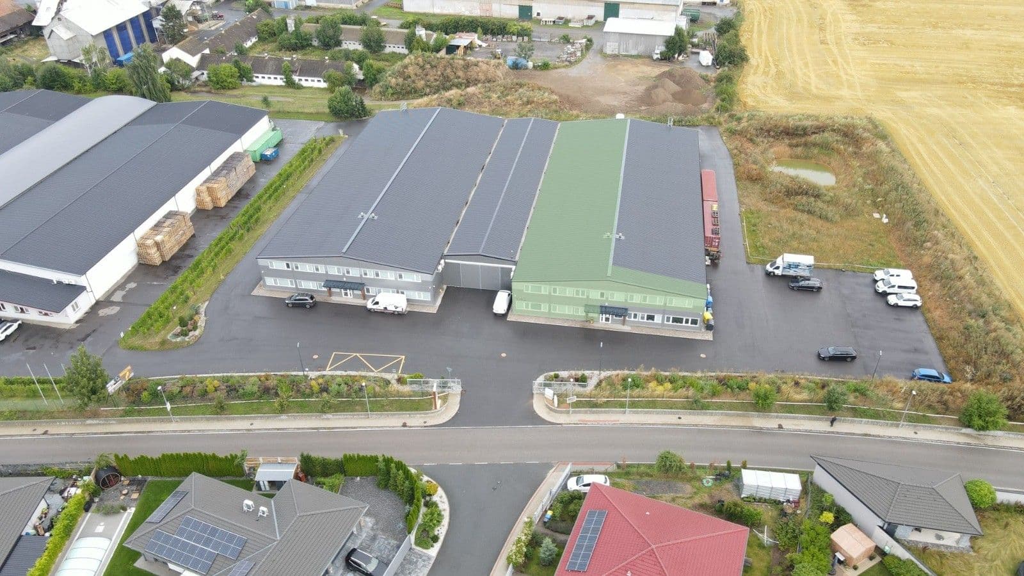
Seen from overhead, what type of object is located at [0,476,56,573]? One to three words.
house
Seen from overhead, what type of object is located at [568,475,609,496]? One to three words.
car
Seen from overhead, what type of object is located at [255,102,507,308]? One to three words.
building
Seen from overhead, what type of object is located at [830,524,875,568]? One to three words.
shed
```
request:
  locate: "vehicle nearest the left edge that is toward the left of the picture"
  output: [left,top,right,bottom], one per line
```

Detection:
[0,320,24,343]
